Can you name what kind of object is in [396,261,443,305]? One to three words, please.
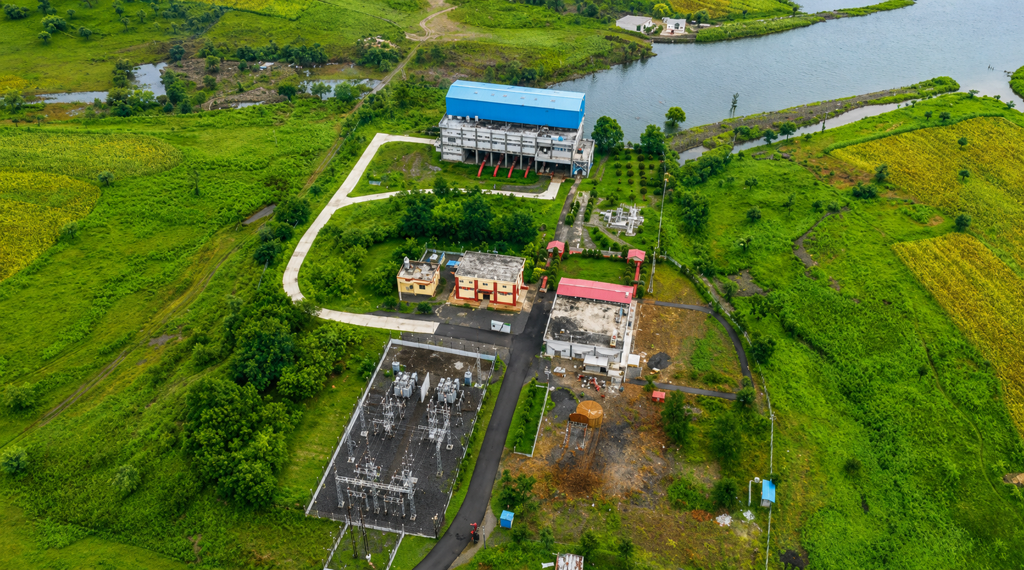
house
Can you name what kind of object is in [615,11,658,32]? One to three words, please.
building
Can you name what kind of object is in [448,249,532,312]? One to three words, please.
building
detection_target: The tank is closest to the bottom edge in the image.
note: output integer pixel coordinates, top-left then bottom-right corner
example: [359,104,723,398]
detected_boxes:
[580,402,609,437]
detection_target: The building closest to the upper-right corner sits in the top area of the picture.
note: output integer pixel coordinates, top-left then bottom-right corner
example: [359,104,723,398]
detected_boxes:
[668,16,691,35]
